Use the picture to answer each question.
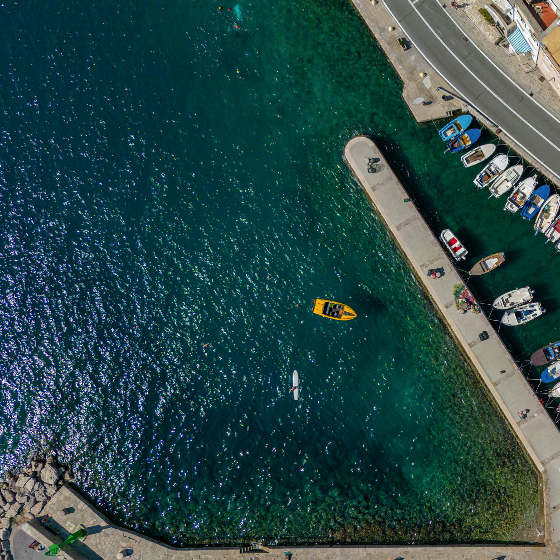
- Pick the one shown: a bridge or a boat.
boat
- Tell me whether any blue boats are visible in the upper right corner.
Yes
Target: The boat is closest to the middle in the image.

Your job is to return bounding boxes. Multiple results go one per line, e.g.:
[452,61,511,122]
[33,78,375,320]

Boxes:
[311,299,357,322]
